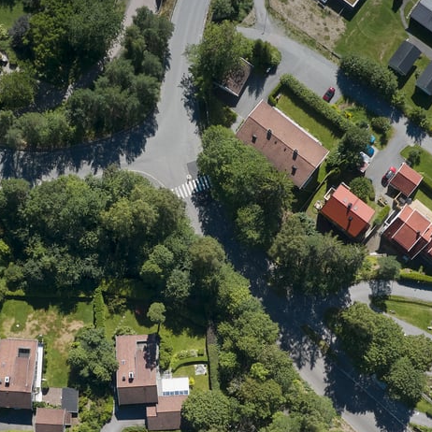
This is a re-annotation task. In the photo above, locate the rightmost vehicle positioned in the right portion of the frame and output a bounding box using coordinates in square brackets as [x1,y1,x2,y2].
[383,168,397,184]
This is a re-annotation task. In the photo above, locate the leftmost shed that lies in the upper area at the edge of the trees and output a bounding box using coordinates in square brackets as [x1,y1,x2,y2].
[220,58,253,98]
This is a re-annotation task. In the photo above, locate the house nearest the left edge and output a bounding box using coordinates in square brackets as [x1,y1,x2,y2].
[0,339,37,409]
